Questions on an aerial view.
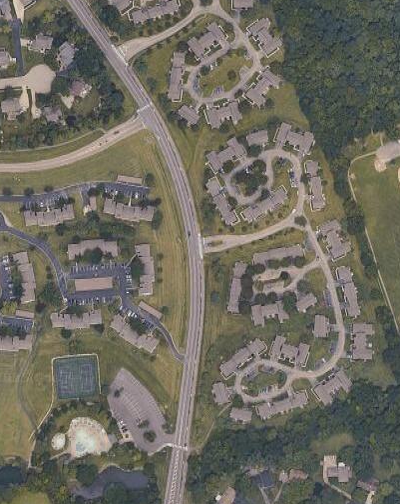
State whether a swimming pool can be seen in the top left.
No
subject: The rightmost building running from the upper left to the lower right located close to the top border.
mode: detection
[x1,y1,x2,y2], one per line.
[242,15,288,62]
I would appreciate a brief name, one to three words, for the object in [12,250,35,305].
building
